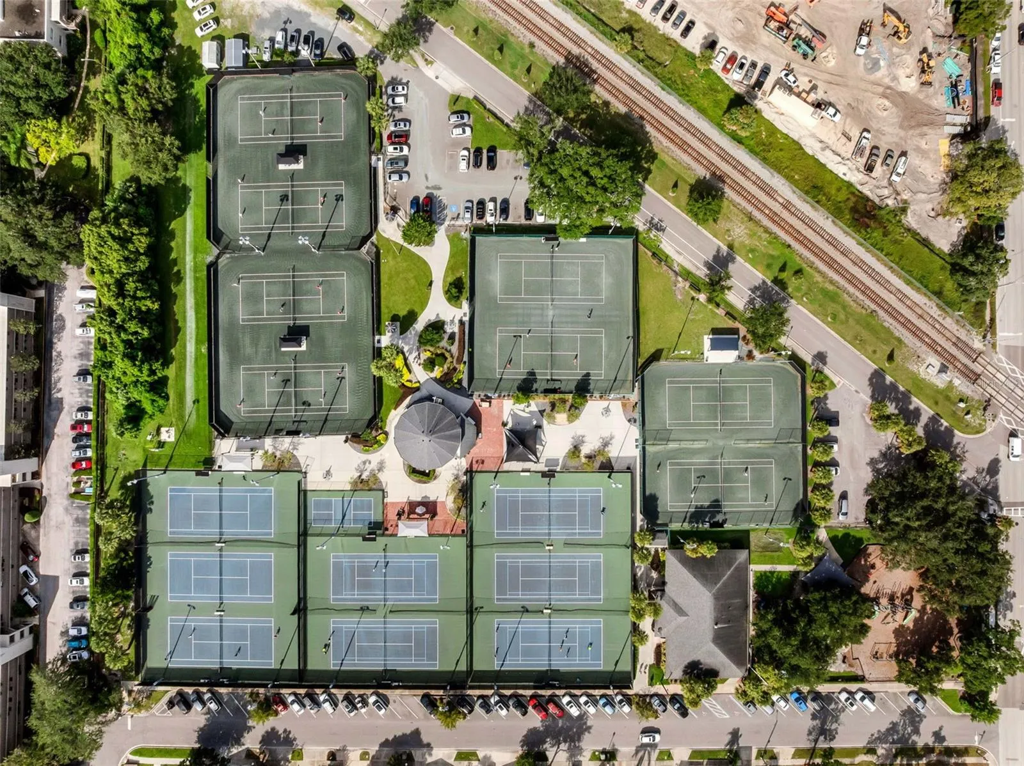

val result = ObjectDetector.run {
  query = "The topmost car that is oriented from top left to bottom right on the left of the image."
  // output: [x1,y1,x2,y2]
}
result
[335,4,356,23]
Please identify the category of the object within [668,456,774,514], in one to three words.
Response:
tennis court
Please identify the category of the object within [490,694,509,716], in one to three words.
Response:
car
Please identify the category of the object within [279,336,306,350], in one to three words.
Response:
building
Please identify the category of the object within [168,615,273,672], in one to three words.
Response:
tennis court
